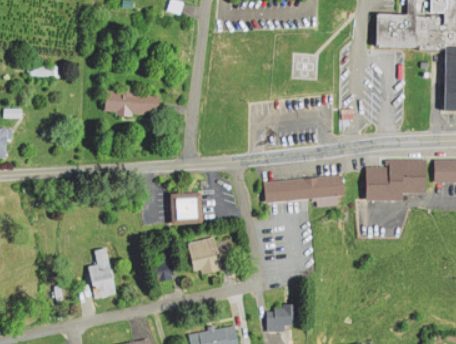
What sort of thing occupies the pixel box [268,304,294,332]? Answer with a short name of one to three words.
house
